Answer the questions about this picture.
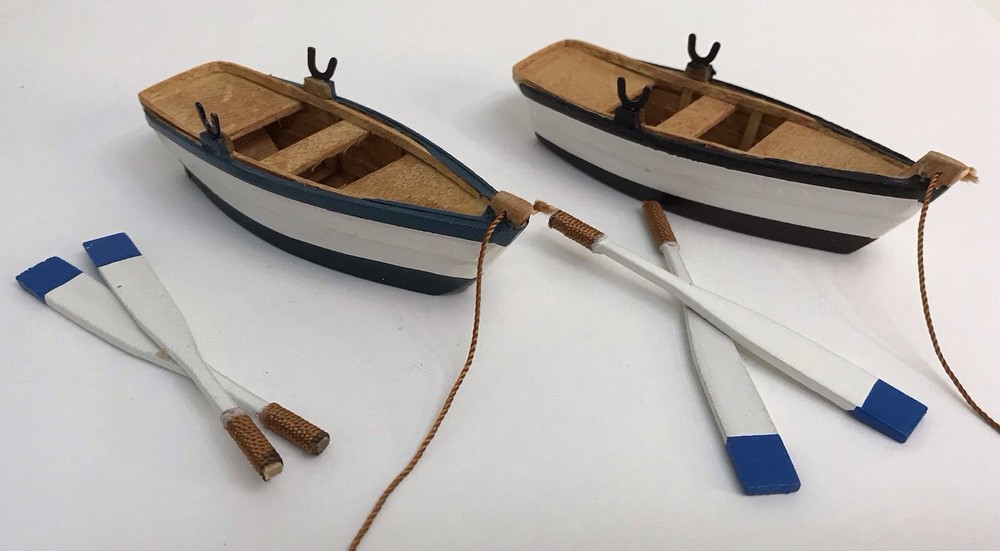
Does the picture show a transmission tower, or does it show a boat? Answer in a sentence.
Looking from above, you can make out a boat.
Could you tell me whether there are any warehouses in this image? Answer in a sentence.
No, the picture doesn't show any warehouse.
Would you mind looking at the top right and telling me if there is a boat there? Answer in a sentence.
Yes, looking at the top right, one can make out a boat.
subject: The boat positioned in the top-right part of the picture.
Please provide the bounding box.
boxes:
[512,34,979,250]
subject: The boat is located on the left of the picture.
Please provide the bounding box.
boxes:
[140,47,564,290]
